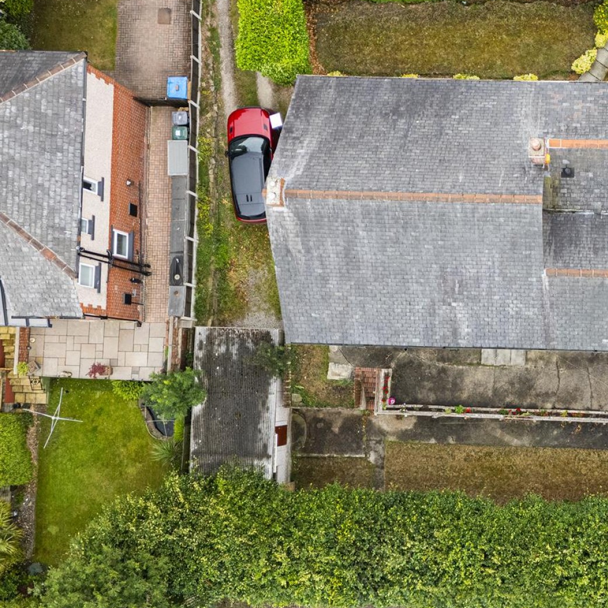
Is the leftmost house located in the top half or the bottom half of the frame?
top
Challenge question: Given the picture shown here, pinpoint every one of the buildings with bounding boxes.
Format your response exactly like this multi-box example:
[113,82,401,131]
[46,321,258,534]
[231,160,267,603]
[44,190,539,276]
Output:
[188,326,295,482]
[262,74,608,352]
[0,49,149,326]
